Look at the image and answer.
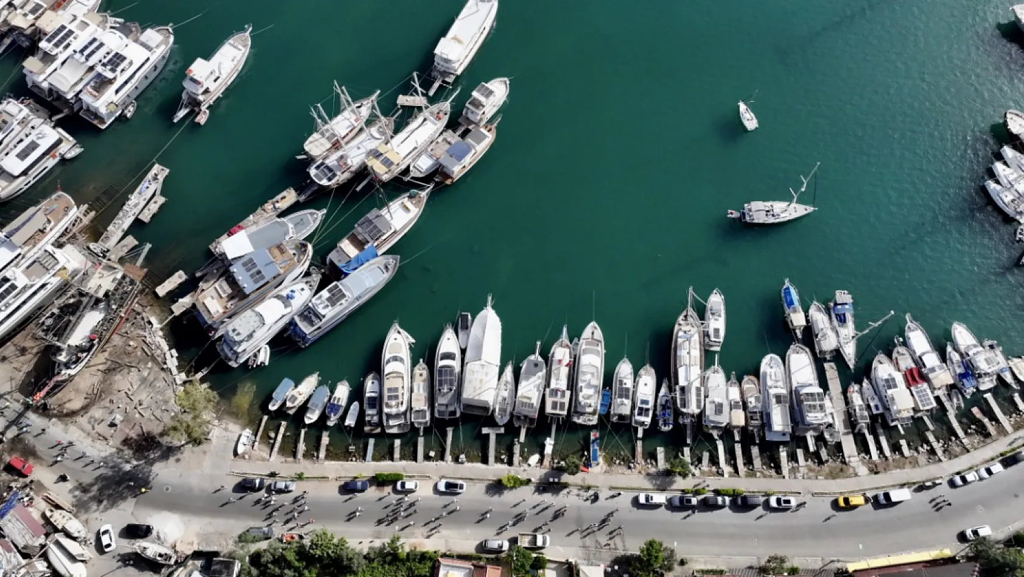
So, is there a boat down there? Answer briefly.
Yes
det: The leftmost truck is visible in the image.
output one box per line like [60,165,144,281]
[7,453,34,478]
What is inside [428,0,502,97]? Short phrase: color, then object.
white boat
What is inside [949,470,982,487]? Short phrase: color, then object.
white car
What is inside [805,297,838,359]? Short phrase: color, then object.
white boat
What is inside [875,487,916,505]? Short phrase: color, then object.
white vehicle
